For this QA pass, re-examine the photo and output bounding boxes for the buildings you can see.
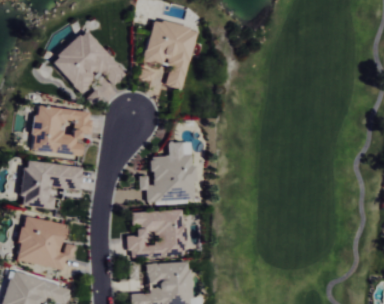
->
[140,141,198,206]
[18,162,82,210]
[16,216,76,270]
[138,20,197,90]
[132,263,204,304]
[54,32,125,94]
[126,212,186,258]
[30,106,91,154]
[3,272,71,304]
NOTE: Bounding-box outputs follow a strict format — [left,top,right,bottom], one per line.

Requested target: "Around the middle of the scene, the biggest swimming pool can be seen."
[181,130,204,153]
